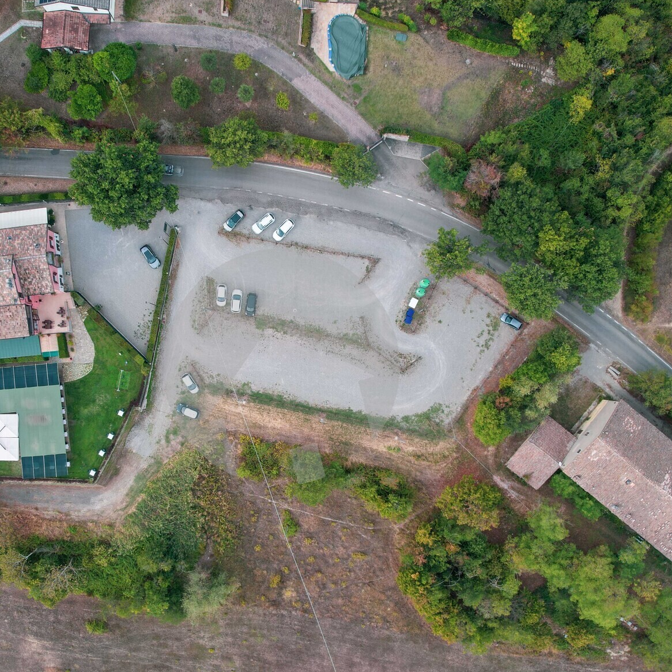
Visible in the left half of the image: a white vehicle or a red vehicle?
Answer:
white vehicle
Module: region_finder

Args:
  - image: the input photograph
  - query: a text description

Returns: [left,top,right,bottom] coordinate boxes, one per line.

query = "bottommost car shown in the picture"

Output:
[176,404,201,420]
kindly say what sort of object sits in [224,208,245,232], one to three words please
car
